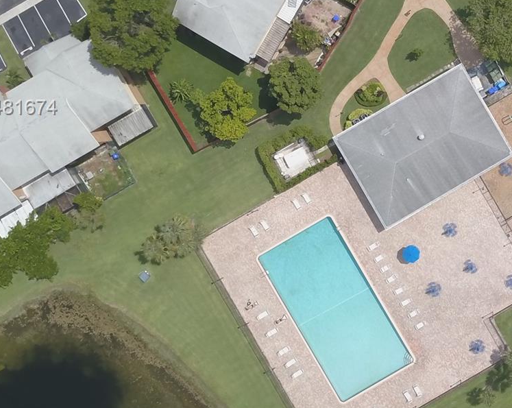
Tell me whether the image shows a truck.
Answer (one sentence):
No, the photo shows no truck.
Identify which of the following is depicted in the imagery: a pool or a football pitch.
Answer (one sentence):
There is a pool in the scene.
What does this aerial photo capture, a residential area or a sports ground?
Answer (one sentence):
This looks like a residential area.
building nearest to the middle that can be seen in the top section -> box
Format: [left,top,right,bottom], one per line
[286,147,314,171]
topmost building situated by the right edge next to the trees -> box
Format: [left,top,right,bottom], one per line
[334,67,512,230]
